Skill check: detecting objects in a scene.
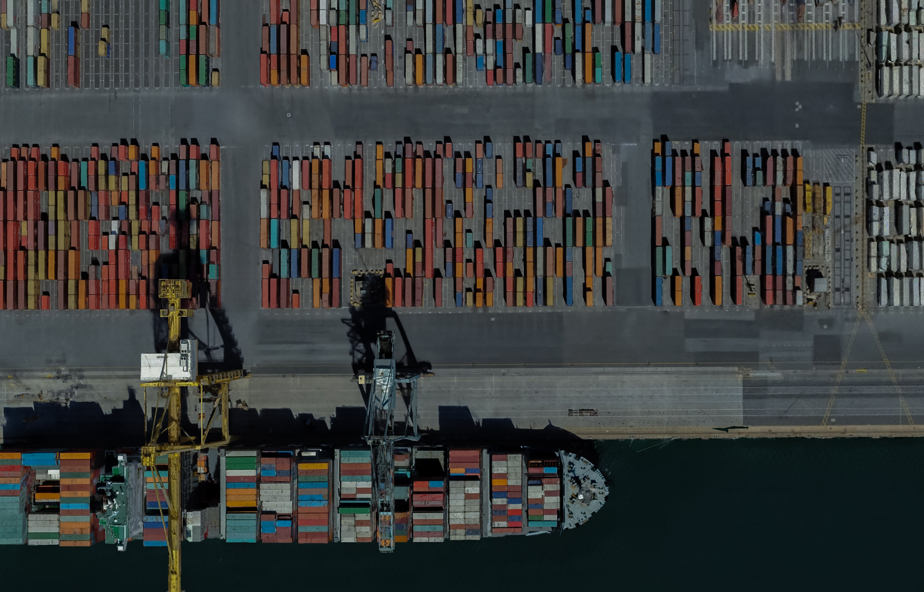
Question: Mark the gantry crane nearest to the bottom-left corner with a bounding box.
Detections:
[140,280,247,592]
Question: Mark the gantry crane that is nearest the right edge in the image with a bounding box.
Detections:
[342,332,437,553]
